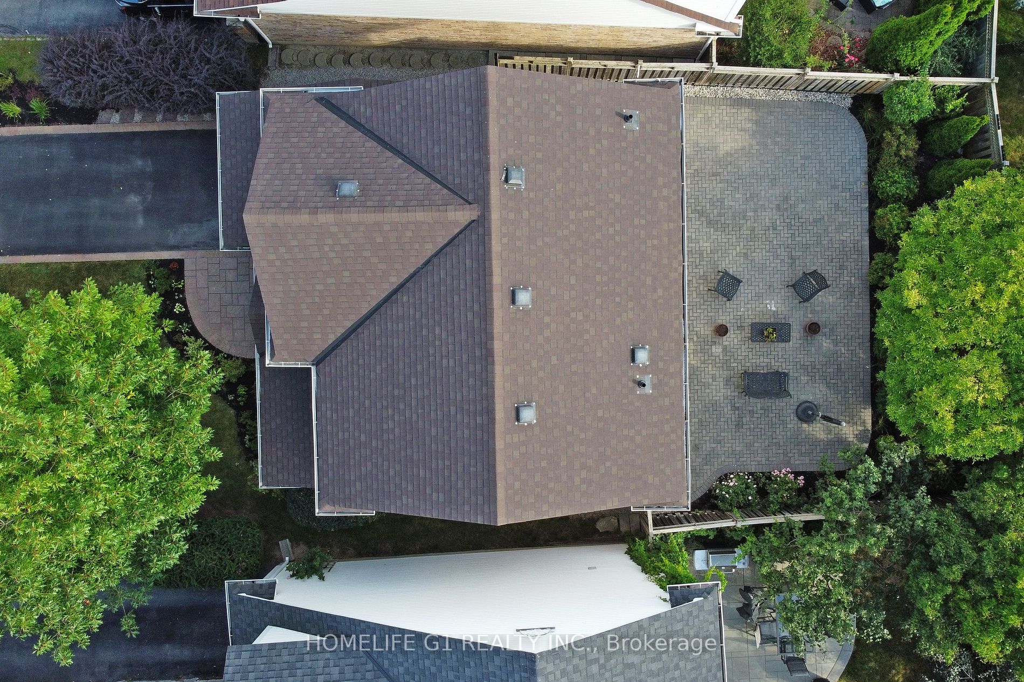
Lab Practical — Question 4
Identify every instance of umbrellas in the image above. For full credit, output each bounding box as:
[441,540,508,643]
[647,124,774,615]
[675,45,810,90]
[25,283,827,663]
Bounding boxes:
[796,401,847,423]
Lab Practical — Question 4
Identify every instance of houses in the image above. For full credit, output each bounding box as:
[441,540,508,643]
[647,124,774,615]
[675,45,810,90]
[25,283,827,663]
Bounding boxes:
[226,545,726,682]
[194,0,737,62]
[217,65,691,526]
